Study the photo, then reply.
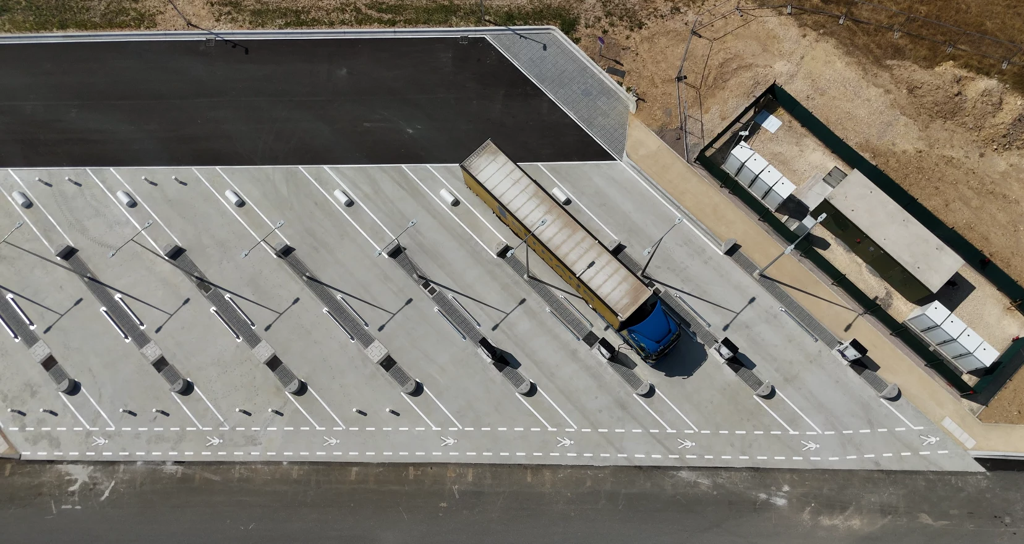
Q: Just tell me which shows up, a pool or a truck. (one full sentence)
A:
The one in the frame is a truck.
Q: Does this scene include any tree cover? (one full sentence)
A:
No, the picture contains no tree cover.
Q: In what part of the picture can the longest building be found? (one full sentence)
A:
The longest building appears toward the right of the photo.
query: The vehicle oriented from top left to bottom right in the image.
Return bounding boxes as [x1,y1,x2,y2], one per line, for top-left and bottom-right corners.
[460,137,682,363]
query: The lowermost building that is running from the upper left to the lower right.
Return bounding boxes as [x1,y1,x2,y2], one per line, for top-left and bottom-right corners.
[811,169,965,302]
